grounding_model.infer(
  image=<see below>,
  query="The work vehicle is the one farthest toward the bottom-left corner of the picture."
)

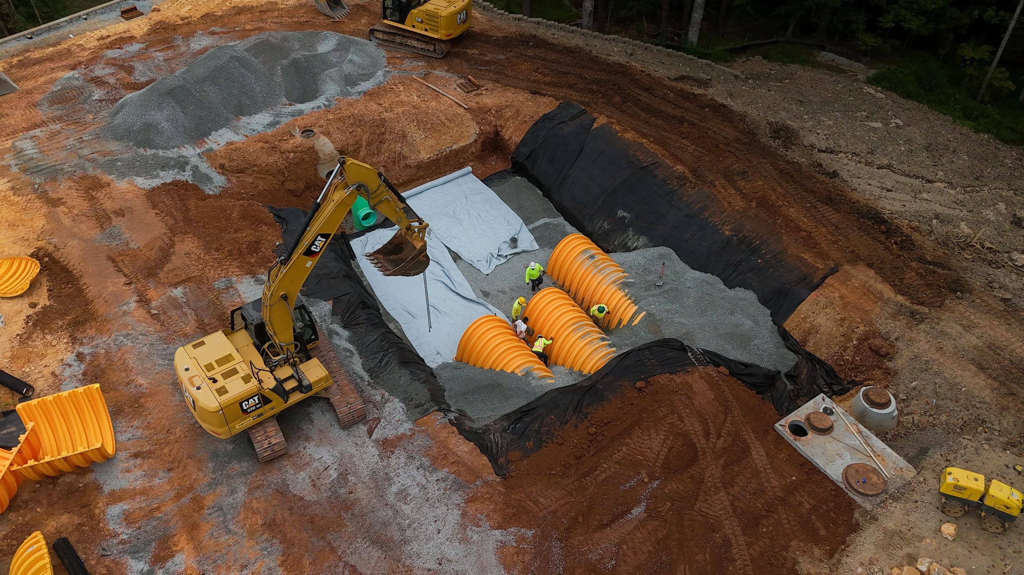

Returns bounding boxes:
[170,149,430,463]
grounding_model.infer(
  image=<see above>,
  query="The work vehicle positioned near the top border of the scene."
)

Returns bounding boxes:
[370,0,485,57]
